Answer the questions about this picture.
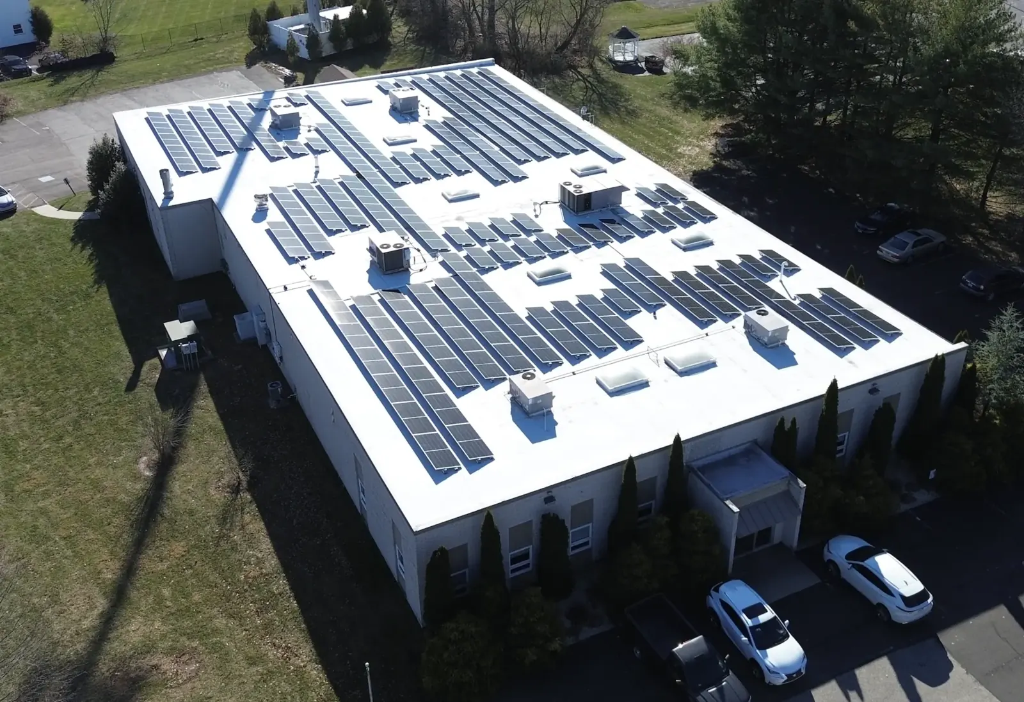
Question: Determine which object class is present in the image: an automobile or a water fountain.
automobile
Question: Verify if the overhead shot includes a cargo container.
No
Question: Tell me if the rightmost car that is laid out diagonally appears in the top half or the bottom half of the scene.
bottom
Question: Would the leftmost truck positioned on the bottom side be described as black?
Yes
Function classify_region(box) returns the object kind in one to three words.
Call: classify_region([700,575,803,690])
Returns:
car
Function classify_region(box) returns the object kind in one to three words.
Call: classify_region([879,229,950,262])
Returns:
car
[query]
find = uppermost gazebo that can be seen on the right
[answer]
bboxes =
[603,23,642,64]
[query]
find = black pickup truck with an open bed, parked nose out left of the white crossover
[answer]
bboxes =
[619,582,744,702]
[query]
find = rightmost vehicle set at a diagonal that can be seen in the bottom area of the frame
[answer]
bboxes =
[817,532,929,629]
